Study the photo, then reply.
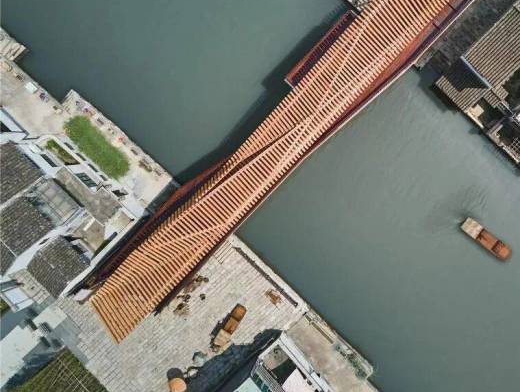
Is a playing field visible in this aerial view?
No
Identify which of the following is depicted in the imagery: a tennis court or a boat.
boat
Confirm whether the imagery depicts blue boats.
No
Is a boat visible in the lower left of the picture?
No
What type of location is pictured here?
residential area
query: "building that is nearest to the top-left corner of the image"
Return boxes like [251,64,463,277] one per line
[0,142,58,203]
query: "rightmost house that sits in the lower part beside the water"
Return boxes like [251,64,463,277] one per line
[225,316,350,392]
